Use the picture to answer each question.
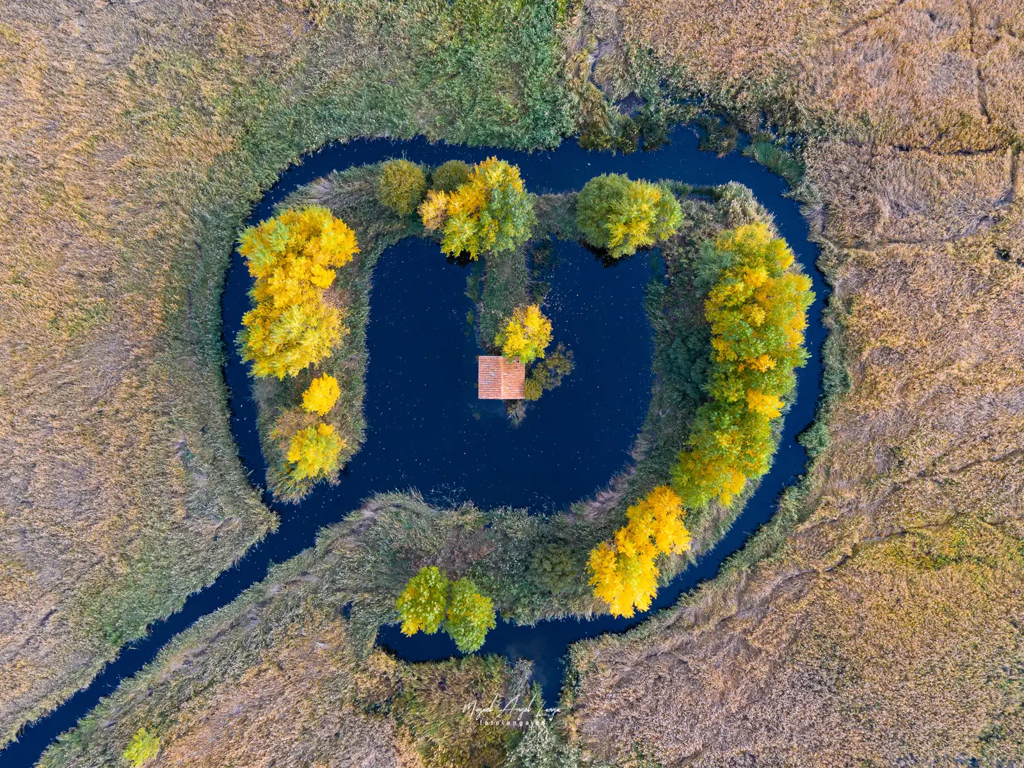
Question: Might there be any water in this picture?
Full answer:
Yes, the picture does contain water.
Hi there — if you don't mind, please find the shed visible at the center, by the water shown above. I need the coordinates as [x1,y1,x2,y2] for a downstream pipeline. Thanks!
[478,355,526,401]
